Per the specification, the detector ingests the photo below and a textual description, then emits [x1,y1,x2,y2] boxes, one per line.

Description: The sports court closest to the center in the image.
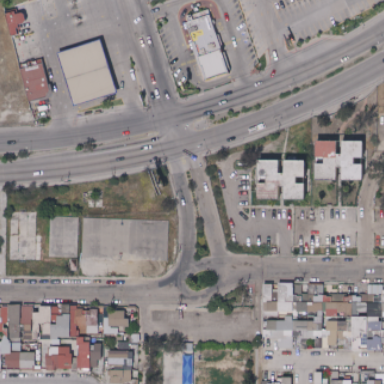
[130,219,168,260]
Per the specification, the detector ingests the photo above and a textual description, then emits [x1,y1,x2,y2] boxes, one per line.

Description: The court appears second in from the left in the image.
[49,216,78,257]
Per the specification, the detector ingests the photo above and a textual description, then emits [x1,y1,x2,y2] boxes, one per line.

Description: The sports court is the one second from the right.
[82,218,130,258]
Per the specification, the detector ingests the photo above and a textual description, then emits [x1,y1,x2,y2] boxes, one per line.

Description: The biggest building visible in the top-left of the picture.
[58,39,116,105]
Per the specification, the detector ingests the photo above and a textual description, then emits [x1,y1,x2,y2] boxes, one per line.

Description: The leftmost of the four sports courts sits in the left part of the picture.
[10,211,41,260]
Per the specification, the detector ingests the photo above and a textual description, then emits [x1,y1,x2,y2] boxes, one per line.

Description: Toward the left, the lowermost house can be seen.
[108,368,138,383]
